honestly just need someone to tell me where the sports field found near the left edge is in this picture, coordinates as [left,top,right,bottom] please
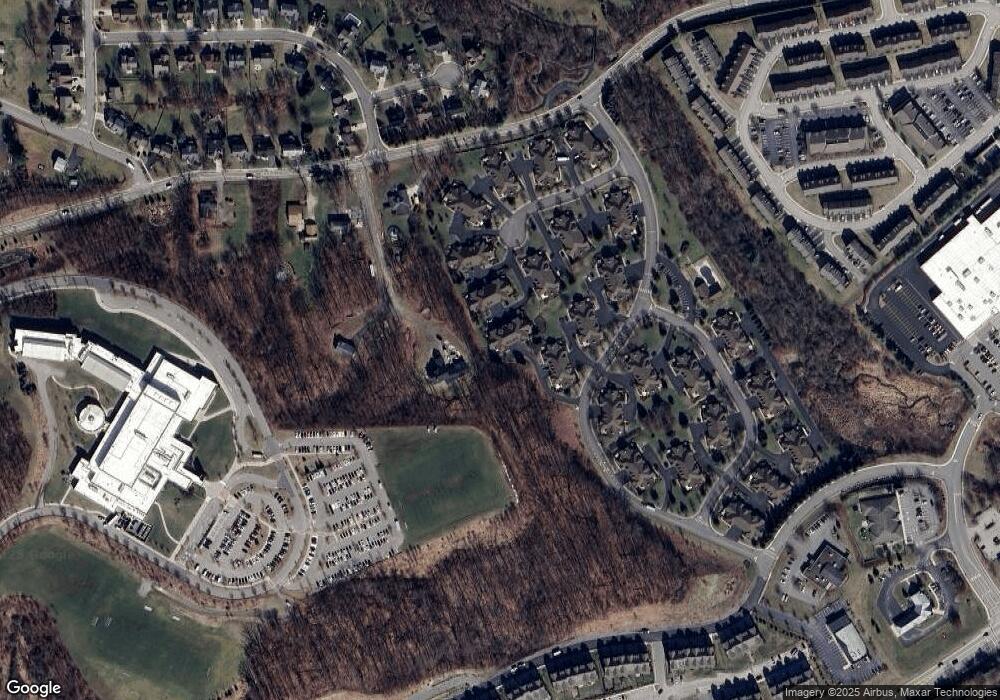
[2,534,235,700]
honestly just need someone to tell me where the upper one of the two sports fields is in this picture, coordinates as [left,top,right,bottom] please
[369,427,506,543]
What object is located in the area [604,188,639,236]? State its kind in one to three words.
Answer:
house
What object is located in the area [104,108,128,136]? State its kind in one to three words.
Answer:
house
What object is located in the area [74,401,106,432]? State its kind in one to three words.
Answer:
building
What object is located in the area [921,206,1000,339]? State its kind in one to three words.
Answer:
building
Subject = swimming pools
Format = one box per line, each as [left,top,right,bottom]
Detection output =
[692,256,724,288]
